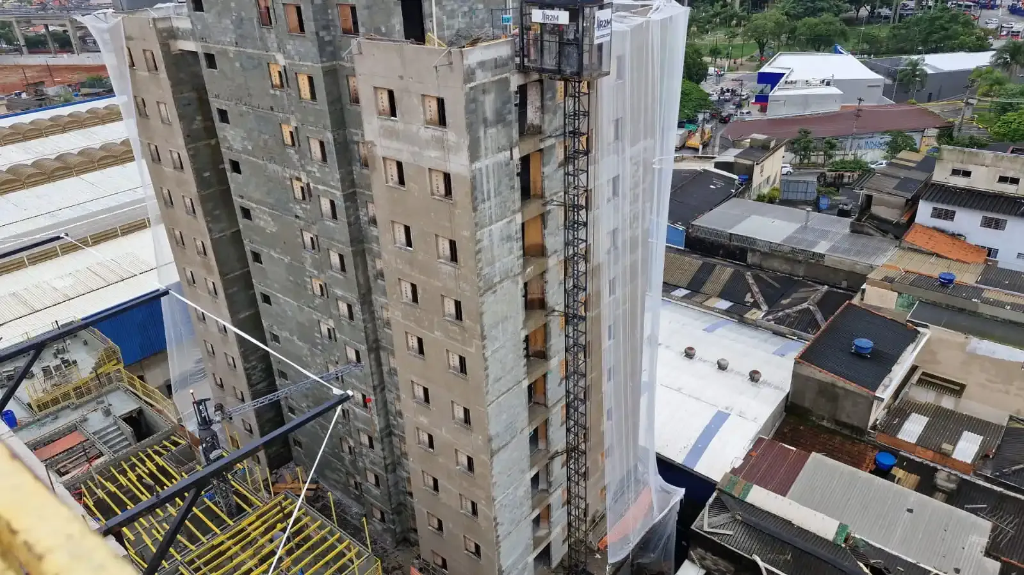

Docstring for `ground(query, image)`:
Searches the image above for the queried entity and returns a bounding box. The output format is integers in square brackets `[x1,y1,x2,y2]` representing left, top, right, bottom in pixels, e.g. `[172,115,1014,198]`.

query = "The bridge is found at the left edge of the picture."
[0,3,124,53]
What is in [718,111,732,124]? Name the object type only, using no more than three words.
vehicle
